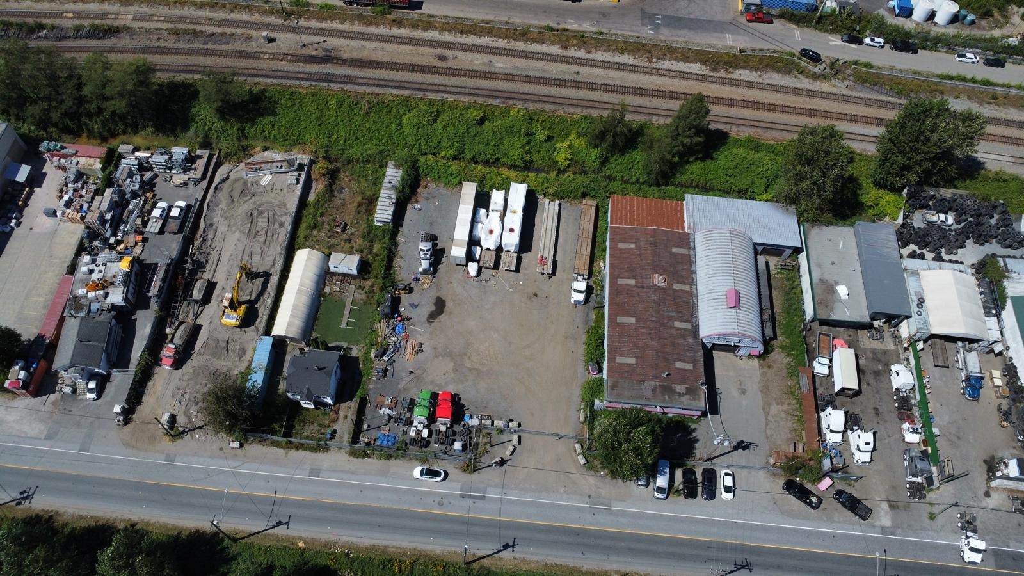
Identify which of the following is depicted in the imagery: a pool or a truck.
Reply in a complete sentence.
Of the two, only a truck appears.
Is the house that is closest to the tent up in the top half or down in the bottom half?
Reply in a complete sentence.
The house that is closest to the tent sits in the bottom half of the picture.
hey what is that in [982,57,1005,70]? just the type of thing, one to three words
vehicle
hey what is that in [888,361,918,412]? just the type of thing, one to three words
truck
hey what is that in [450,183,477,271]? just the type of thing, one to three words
trailer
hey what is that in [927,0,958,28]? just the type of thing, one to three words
storage tank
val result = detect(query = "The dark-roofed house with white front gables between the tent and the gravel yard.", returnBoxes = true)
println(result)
[278,348,343,416]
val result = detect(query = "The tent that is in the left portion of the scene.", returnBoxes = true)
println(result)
[276,252,328,349]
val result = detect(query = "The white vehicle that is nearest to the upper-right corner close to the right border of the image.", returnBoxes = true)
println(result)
[954,52,979,64]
